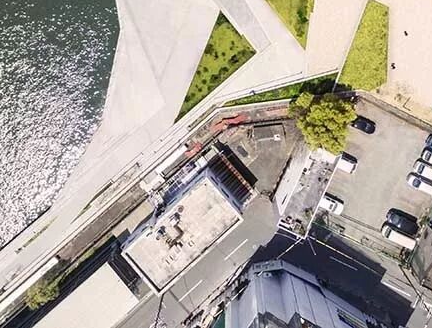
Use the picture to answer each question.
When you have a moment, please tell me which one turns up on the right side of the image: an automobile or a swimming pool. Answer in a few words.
automobile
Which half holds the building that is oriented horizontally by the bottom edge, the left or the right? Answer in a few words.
right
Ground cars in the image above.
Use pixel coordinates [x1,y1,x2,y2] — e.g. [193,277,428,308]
[338,155,357,173]
[350,116,377,135]
[382,225,412,247]
[386,210,417,233]
[319,196,342,215]
[406,174,432,195]
[420,149,432,163]
[412,161,432,179]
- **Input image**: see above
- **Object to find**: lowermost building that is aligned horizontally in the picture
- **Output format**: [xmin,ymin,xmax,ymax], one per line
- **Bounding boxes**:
[222,266,372,328]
